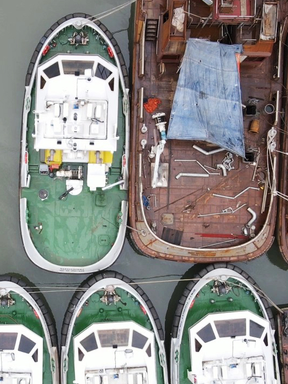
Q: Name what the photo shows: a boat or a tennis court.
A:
boat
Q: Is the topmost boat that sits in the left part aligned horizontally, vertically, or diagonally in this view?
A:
vertically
